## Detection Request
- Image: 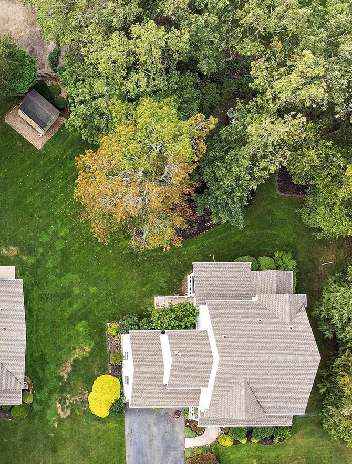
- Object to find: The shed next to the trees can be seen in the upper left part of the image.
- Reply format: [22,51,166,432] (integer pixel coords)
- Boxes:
[19,90,63,133]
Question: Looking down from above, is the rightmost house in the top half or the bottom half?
bottom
